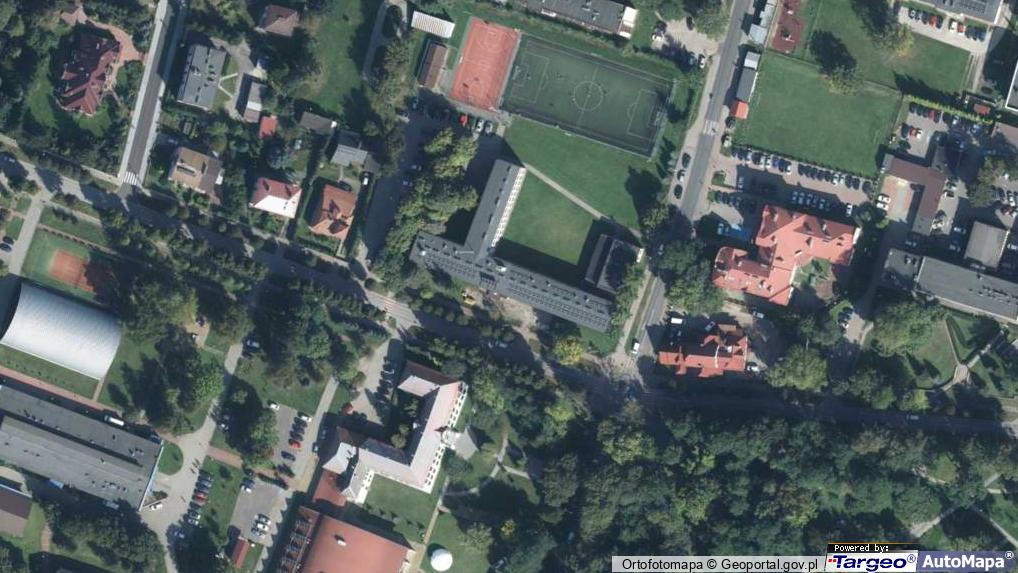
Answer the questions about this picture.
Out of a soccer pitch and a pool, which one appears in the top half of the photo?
soccer pitch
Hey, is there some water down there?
No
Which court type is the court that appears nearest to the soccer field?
basketball court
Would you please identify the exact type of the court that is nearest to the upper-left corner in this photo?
tennis court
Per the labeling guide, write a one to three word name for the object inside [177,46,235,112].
house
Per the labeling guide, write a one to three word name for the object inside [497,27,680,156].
soccer field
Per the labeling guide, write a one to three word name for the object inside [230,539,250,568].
shed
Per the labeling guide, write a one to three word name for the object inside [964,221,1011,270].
building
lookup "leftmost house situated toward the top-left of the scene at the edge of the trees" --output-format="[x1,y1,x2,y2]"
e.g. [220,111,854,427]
[56,36,124,113]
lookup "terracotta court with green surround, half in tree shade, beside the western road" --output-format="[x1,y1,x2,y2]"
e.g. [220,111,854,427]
[20,228,124,309]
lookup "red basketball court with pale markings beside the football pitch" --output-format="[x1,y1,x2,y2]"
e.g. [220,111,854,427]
[444,14,523,112]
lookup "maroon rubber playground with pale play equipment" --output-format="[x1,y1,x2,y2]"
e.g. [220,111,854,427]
[771,0,804,54]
